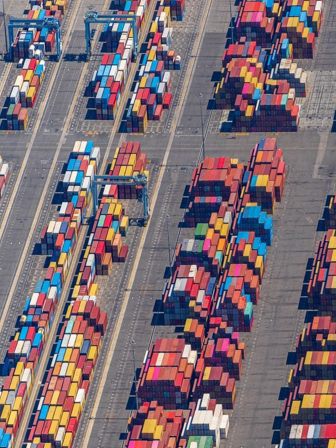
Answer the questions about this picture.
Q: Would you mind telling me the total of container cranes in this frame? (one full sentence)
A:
My tally gives 3 container cranes in this view.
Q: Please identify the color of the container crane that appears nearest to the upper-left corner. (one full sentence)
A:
In this view, the container crane that appears nearest to the upper-left corner is blue.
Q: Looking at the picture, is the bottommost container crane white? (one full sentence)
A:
No, the bottommost container crane is actually blue.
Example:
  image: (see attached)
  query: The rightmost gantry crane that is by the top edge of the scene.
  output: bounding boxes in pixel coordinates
[81,11,138,63]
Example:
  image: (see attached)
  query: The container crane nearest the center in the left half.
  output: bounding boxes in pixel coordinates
[88,169,149,225]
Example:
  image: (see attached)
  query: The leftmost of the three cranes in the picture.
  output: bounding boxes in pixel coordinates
[5,11,62,63]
